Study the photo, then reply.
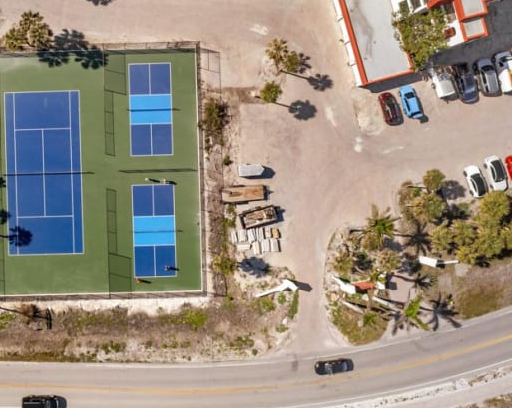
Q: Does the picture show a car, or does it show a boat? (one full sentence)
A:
I can see a car in this picture.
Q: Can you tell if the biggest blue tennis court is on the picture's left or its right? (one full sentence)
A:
You can find the biggest blue tennis court on the left side of the picture.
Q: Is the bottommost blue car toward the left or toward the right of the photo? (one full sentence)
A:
The bottommost blue car is on the right side of the image.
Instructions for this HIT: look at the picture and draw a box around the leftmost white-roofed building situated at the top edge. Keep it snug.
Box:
[326,0,415,86]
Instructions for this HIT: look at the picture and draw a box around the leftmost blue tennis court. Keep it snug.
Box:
[4,91,88,256]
